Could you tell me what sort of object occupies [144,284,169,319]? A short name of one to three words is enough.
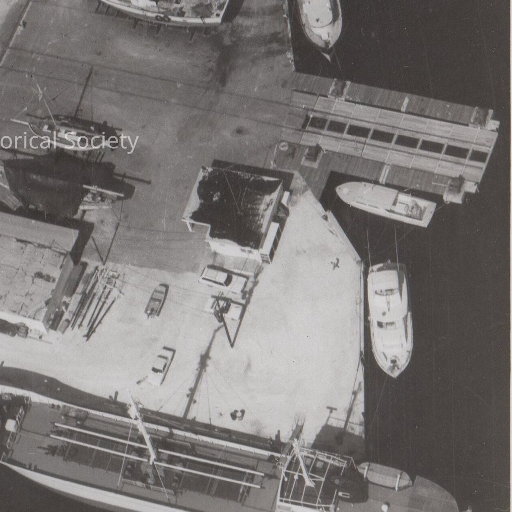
boat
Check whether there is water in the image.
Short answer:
Yes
